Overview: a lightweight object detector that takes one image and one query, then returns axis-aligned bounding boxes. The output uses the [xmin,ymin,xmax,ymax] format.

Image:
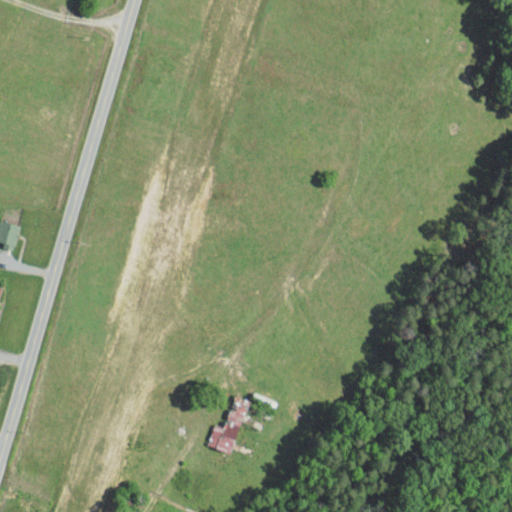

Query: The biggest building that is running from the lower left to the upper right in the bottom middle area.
[208,398,252,454]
